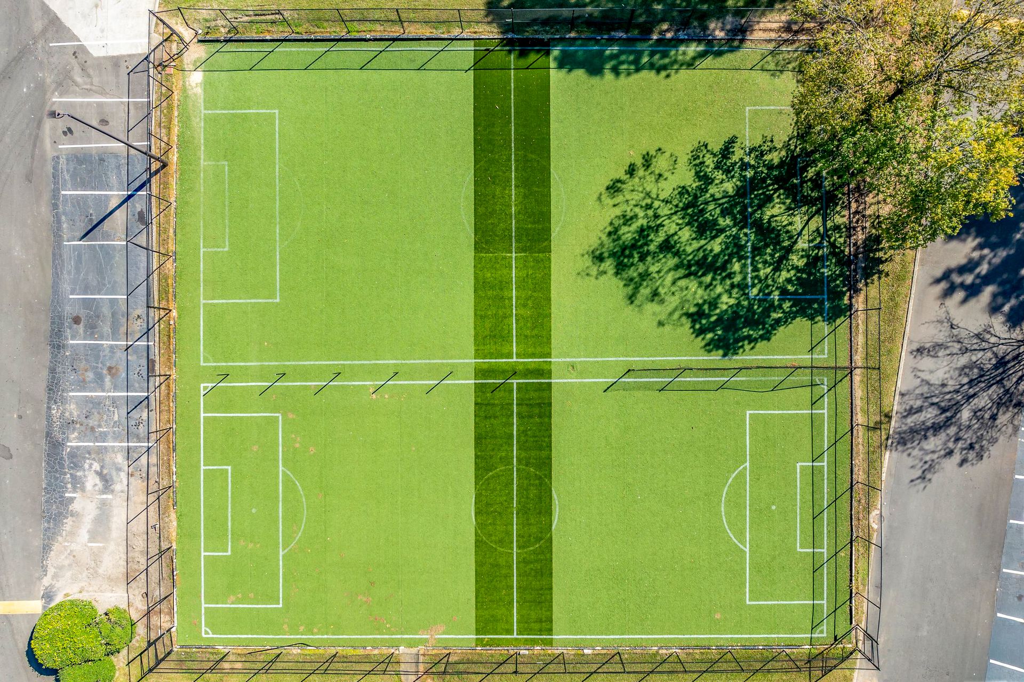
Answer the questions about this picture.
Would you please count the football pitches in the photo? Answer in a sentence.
Looking from above, you can make out 2 football pitches.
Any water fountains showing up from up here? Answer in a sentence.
No, there is no water fountain in the image.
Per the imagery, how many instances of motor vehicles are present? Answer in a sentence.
The count of motor vehicles is 0.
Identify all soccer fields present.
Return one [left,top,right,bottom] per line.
[177,38,851,372]
[176,372,850,653]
